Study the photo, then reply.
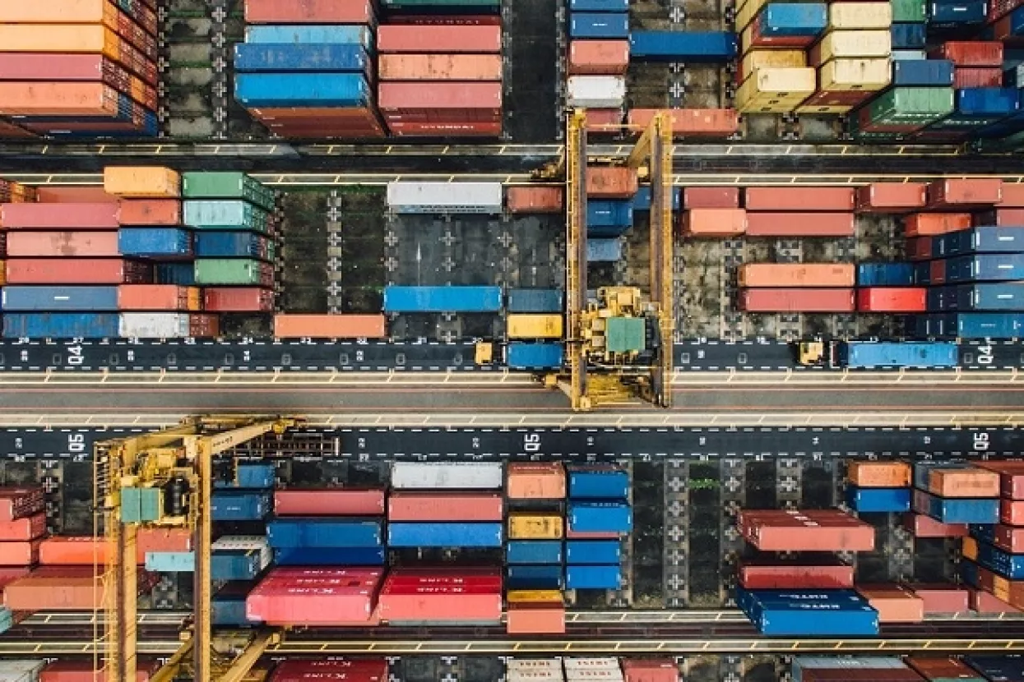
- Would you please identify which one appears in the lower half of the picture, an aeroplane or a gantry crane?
gantry crane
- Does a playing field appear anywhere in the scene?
No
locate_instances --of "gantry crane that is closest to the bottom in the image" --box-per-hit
[85,412,314,682]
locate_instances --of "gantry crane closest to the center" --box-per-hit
[523,112,675,404]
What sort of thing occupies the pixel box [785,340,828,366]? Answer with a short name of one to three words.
truck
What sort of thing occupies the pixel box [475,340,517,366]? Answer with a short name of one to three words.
truck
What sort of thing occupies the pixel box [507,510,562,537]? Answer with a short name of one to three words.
shipping container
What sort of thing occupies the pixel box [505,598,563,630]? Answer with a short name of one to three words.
shipping container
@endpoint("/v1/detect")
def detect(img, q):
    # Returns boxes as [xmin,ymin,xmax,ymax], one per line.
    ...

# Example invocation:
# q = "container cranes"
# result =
[523,112,675,404]
[85,412,314,682]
